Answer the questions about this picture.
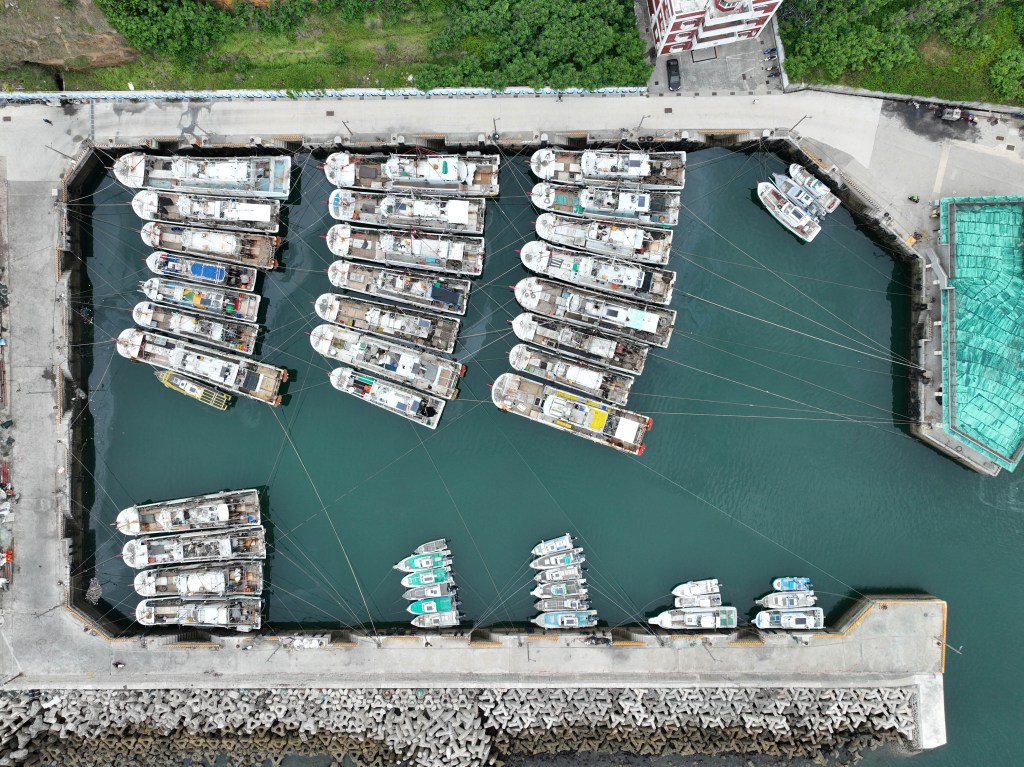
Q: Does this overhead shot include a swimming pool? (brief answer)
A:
No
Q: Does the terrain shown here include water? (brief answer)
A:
Yes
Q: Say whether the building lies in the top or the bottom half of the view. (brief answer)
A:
top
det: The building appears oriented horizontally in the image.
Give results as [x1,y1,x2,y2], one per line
[647,0,785,58]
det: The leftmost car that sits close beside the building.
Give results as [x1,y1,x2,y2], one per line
[666,56,683,89]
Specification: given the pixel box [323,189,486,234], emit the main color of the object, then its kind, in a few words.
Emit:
white boat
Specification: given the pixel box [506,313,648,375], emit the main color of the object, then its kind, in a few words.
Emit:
white boat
